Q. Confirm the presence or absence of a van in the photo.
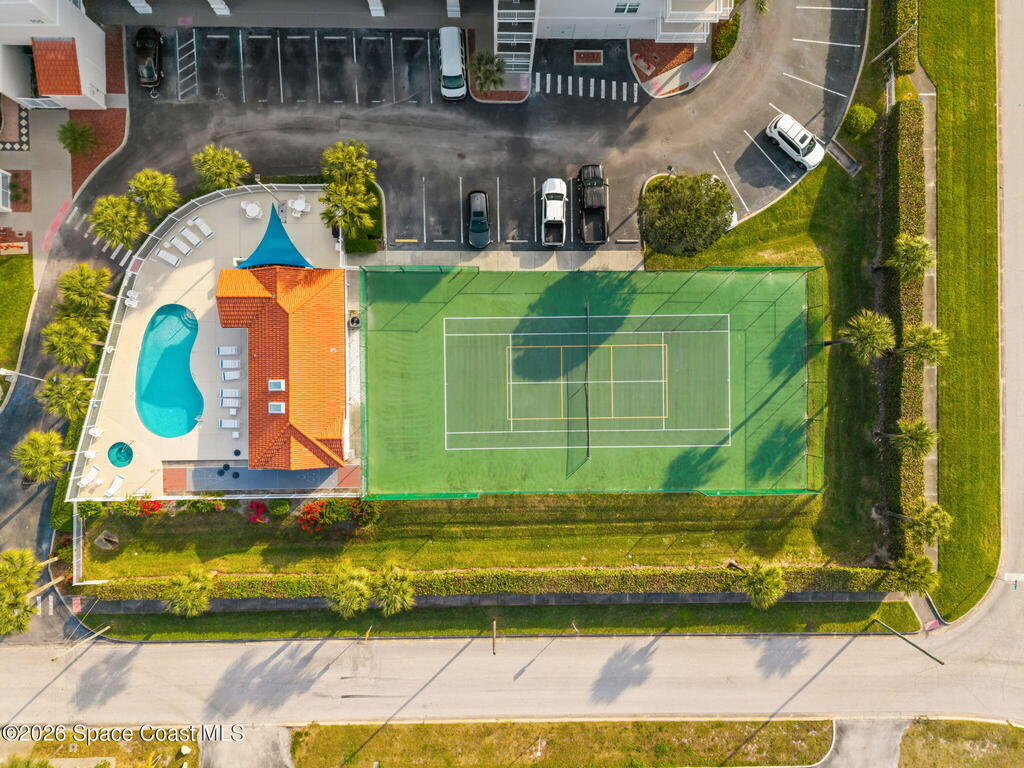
Yes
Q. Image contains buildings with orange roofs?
Yes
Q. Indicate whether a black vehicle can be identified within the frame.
Yes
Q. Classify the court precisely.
tennis court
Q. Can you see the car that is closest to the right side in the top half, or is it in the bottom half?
top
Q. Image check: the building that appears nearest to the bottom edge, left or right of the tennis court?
on the left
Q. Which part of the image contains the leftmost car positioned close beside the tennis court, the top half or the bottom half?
top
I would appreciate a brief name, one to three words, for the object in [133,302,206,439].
swimming pool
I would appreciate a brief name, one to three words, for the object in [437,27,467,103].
van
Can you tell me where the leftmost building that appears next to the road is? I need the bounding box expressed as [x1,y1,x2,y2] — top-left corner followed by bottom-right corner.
[0,0,105,112]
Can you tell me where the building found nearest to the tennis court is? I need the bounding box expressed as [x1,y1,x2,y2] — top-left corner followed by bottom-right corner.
[216,265,350,472]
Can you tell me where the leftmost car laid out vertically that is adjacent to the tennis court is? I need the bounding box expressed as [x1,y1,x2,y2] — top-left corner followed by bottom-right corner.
[465,193,493,249]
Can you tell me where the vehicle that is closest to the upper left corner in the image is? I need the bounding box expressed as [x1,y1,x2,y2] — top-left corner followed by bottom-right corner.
[133,28,167,89]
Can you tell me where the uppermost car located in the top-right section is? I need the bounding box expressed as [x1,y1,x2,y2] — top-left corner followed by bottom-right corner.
[764,115,823,172]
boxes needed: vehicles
[540,178,569,247]
[578,165,609,246]
[764,115,823,172]
[465,193,493,249]
[133,28,167,89]
[437,27,467,103]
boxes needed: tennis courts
[366,272,807,494]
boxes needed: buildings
[0,0,105,112]
[216,265,350,472]
[497,0,739,73]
